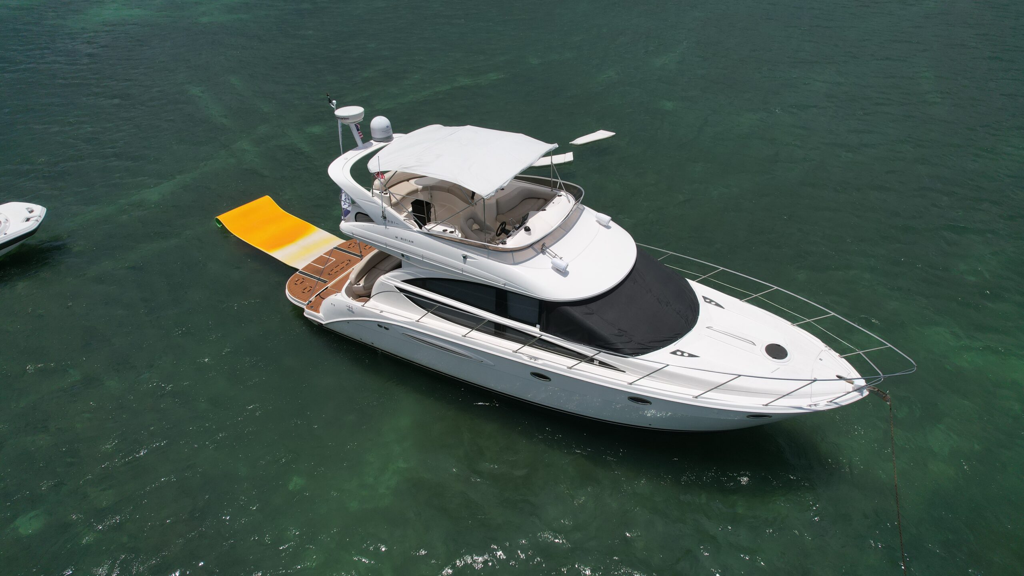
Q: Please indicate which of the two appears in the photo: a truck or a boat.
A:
boat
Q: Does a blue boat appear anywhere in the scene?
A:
No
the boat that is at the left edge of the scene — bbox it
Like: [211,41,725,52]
[0,203,48,260]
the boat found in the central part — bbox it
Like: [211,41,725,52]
[286,87,920,437]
